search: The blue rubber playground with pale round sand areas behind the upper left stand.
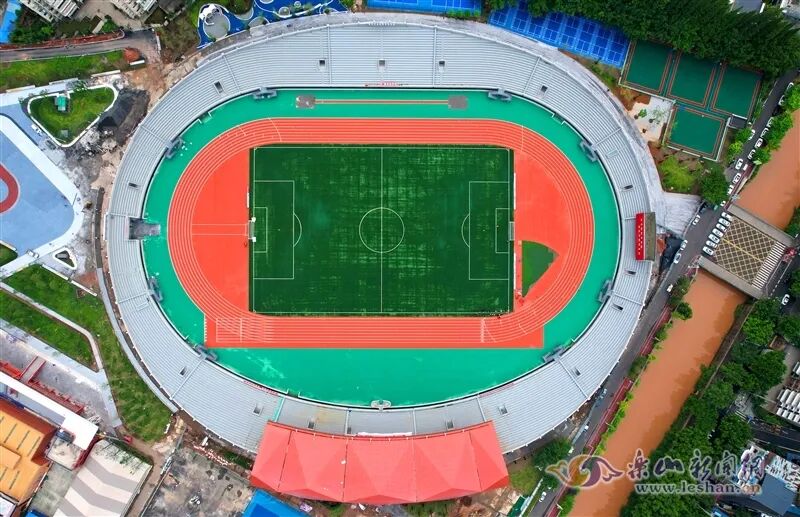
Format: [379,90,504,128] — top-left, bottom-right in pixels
[197,0,349,49]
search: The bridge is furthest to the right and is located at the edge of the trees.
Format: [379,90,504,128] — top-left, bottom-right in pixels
[697,203,795,299]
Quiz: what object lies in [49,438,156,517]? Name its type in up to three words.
building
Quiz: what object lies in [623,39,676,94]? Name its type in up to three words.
tennis court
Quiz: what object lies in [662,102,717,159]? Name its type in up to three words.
tennis court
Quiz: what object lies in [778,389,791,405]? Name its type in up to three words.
vehicle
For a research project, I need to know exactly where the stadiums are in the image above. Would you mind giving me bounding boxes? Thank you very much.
[103,19,659,503]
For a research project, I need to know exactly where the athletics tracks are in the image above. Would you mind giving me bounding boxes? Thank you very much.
[167,118,594,349]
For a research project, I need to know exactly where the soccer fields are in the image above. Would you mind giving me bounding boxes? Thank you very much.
[249,143,514,317]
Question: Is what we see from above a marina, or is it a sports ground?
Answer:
sports ground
